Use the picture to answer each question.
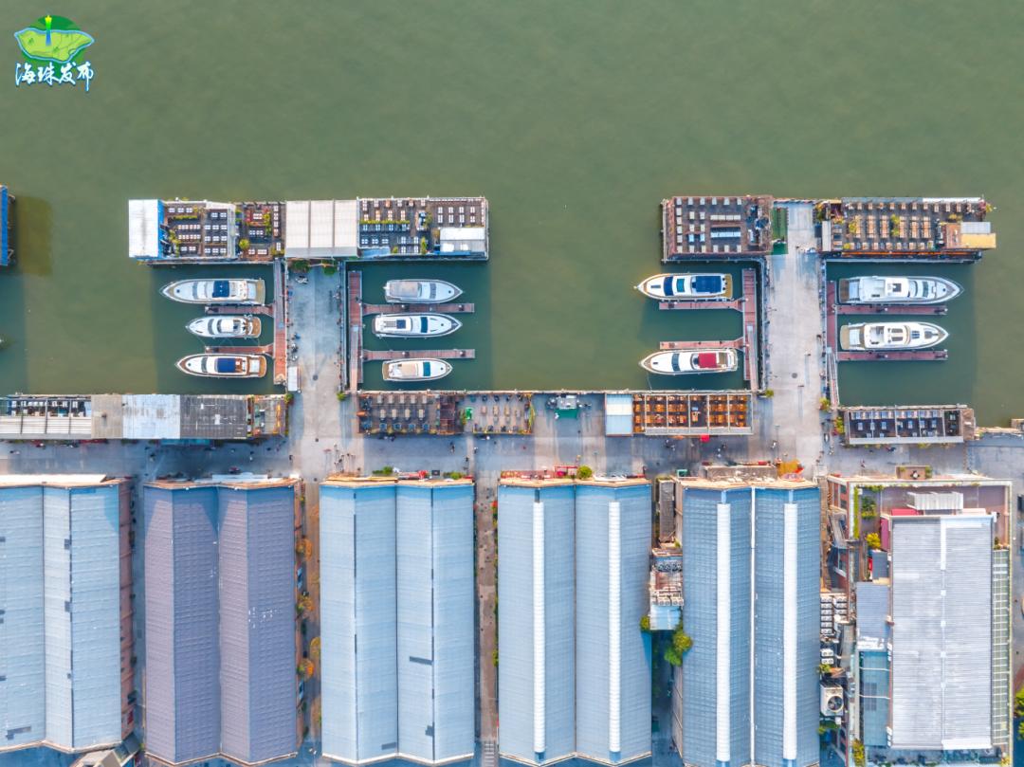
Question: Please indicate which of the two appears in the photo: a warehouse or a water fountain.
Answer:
warehouse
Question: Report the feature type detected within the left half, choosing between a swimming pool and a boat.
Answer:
boat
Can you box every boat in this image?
[640,347,739,375]
[176,352,271,378]
[371,314,463,339]
[381,279,463,306]
[636,273,734,302]
[834,275,962,306]
[381,358,453,383]
[163,278,269,305]
[836,322,950,351]
[186,314,265,339]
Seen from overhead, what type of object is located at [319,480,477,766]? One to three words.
warehouse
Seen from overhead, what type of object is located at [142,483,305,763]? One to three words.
warehouse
